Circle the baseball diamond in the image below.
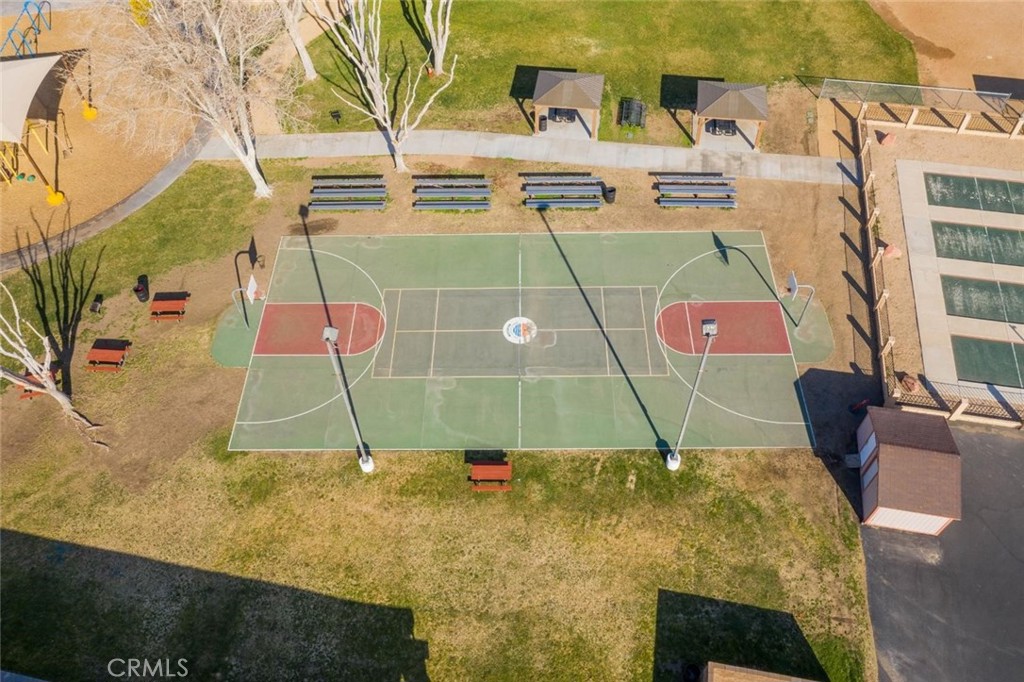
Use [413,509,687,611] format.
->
[867,0,1024,107]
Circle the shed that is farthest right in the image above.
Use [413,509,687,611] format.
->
[837,402,963,536]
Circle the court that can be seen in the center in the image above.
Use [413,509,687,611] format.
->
[210,232,833,451]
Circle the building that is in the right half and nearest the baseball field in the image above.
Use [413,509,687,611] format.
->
[692,78,769,152]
